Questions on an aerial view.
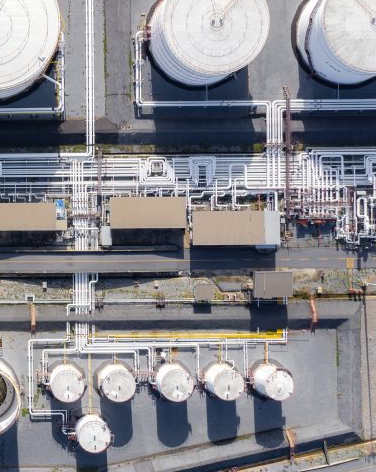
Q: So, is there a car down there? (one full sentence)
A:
No, the scene contains no car.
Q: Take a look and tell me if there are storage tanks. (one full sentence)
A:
Yes, the image includes a storage tank.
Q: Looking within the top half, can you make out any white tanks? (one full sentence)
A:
Yes, a white tank shows up within the top half.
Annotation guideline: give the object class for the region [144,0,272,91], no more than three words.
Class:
storage tank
